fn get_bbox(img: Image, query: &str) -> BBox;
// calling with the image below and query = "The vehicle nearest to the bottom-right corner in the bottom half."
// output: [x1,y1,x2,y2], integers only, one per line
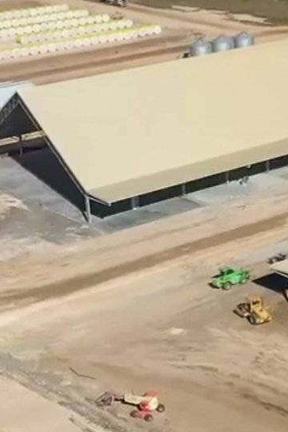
[230,296,272,323]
